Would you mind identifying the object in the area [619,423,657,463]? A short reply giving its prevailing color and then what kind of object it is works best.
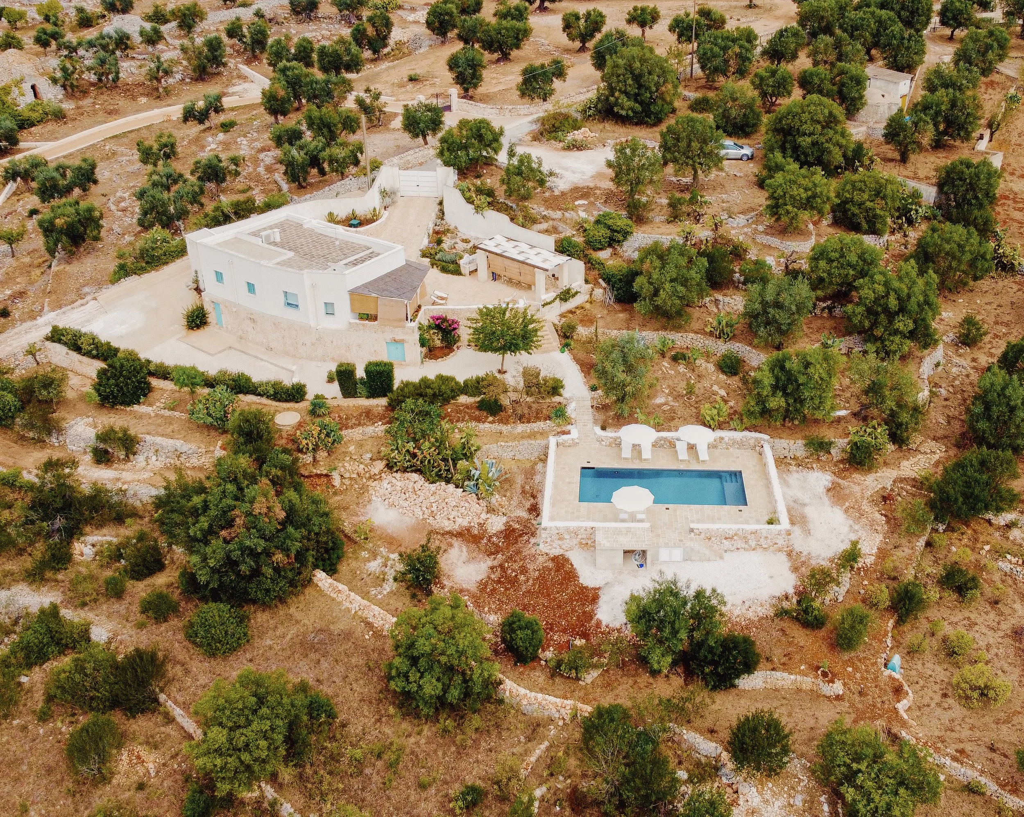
white umbrella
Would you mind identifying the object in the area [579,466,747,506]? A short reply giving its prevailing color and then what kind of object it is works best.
blue swimming pool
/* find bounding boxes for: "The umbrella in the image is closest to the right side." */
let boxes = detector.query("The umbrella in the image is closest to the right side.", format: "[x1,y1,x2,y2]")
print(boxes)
[677,424,716,464]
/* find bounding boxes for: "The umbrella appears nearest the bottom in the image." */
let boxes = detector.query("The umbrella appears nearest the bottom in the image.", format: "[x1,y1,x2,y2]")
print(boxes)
[611,477,658,523]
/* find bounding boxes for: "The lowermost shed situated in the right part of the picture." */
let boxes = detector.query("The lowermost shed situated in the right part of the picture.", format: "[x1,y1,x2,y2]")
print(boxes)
[595,539,652,569]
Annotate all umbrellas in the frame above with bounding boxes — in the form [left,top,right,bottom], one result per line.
[619,423,657,463]
[677,424,716,464]
[611,477,658,523]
